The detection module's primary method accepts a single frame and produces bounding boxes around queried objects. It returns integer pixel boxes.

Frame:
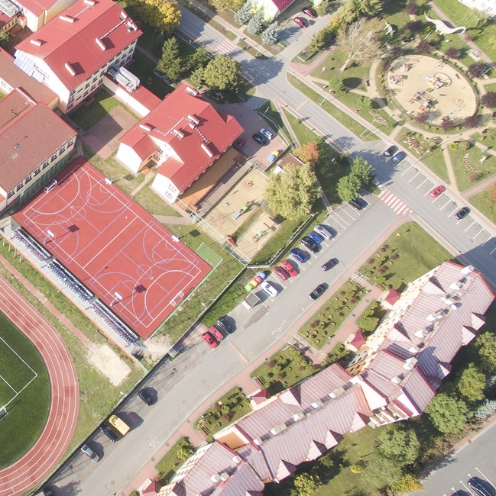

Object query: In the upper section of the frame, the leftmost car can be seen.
[233,137,247,149]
